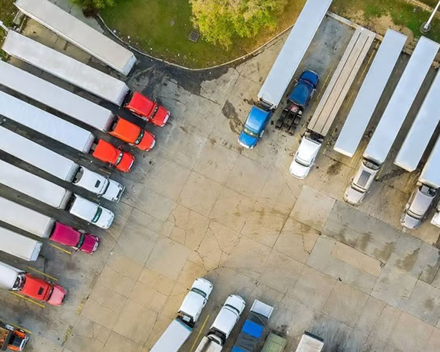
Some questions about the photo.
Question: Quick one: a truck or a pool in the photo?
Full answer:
The image shows a truck.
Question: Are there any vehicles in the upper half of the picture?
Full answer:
Yes, I can see a vehicle in the upper half of the picture.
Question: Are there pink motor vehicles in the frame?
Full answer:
Yes, a pink motor vehicle appears in the view.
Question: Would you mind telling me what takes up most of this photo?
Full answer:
The bulk of the photo consists of paved ground.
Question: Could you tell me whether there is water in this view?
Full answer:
No, there is no water in the image.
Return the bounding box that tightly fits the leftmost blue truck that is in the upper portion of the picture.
[239,102,273,149]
